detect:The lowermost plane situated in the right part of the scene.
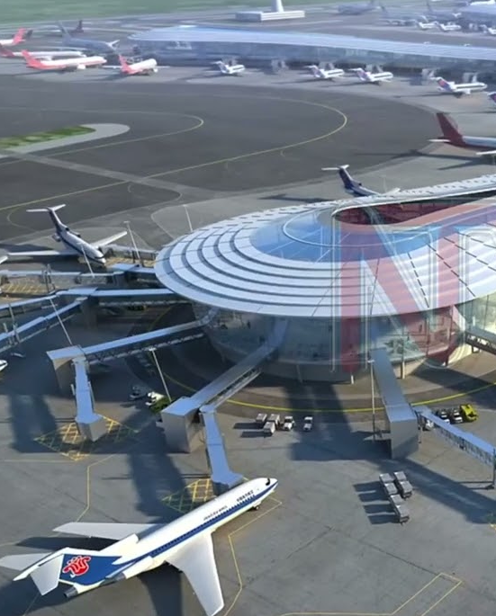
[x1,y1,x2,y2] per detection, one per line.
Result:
[324,164,397,197]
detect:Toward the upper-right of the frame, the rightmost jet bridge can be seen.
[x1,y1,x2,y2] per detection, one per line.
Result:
[462,66,479,84]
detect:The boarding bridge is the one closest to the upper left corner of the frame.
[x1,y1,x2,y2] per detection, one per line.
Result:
[227,53,241,67]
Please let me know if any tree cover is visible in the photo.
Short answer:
No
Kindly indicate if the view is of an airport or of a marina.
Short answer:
airport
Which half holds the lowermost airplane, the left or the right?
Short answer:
left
